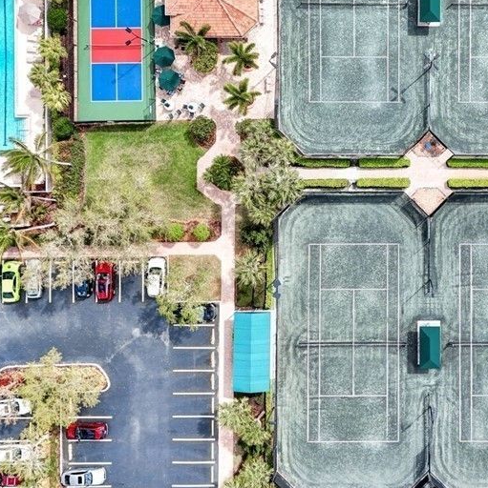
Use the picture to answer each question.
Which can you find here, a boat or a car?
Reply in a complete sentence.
Of the two, only a car appears.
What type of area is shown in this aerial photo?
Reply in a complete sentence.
It's a sports ground.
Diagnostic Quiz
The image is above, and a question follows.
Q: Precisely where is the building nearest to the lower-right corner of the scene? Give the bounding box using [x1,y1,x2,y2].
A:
[418,323,440,370]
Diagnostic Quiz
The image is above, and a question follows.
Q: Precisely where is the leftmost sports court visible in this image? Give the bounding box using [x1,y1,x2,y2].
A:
[76,0,155,123]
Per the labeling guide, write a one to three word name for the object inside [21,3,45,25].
umbrella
